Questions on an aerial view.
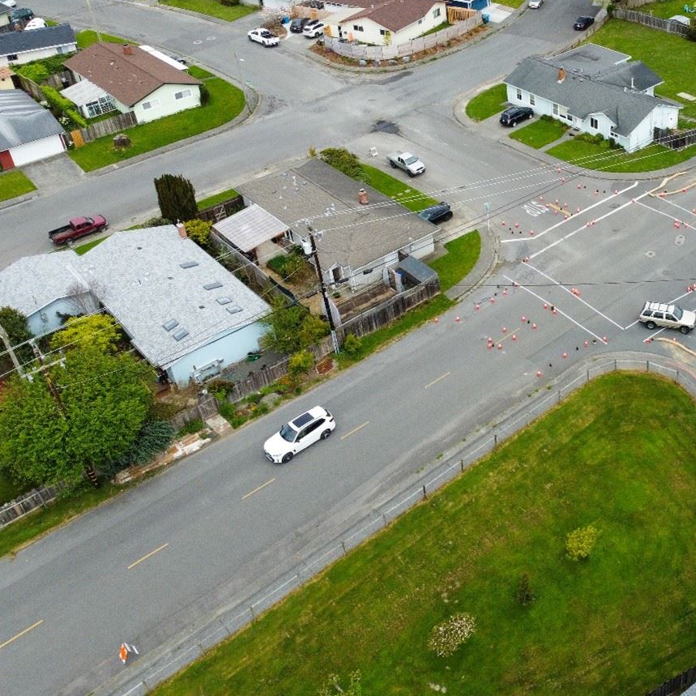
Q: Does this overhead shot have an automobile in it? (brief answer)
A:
Yes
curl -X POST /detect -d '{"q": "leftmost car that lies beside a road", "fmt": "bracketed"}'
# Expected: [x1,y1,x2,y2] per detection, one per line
[9,6,37,20]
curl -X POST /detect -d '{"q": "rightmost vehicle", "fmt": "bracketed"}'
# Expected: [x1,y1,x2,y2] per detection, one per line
[638,300,696,335]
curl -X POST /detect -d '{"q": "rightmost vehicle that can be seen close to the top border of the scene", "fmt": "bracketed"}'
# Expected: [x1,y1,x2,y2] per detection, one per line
[570,11,596,27]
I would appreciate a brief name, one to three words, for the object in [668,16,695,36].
shed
